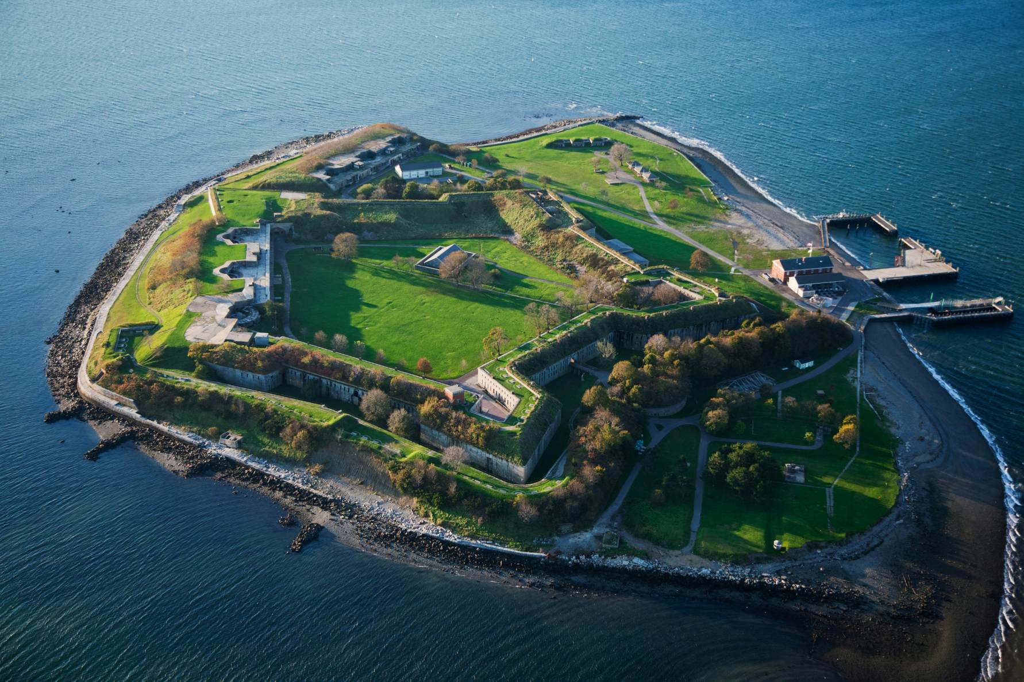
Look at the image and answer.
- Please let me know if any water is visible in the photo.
Yes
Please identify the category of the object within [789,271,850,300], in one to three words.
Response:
building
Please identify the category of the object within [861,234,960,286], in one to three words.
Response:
pier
